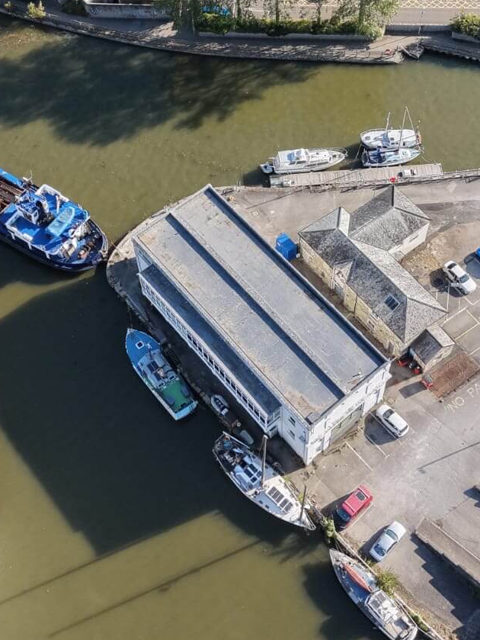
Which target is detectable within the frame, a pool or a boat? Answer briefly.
boat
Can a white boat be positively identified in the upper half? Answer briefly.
Yes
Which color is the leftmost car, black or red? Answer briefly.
red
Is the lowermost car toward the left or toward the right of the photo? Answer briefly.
right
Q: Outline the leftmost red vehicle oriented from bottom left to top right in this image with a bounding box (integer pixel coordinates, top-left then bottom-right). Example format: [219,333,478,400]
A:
[333,481,376,532]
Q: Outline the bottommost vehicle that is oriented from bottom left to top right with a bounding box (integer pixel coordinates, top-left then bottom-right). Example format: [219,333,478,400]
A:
[368,514,410,567]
